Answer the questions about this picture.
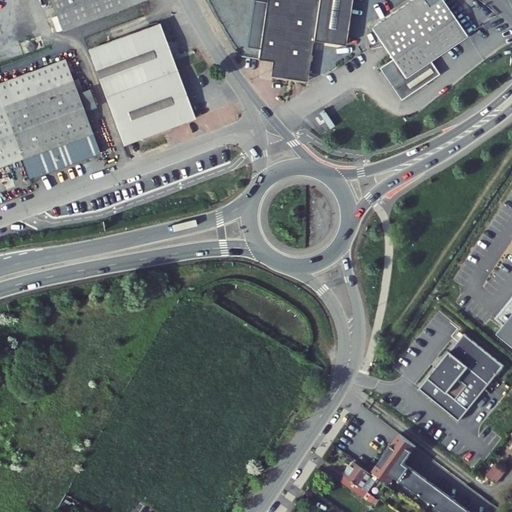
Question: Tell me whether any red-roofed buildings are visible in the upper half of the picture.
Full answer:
No, no red-roofed building appears in the upper half of the picture.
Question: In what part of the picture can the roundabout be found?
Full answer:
You can find the roundabout in the center area of the picture.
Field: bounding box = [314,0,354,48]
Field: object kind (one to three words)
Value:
building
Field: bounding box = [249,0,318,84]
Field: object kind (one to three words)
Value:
building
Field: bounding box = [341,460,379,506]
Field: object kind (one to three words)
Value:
house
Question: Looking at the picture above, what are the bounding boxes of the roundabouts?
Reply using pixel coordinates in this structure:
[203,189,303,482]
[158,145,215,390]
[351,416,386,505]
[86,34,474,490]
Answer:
[240,158,359,276]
